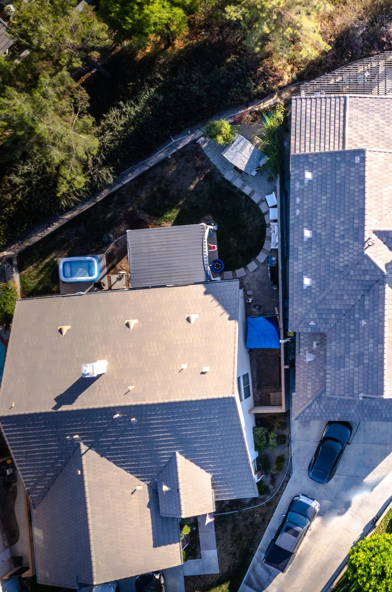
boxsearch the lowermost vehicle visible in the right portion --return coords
[258,493,321,583]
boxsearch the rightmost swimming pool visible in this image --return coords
[55,255,98,283]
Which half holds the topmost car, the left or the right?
right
